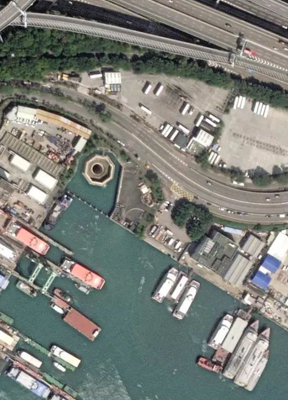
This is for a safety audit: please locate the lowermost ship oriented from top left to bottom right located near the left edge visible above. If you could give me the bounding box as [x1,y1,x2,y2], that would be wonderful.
[6,366,52,398]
